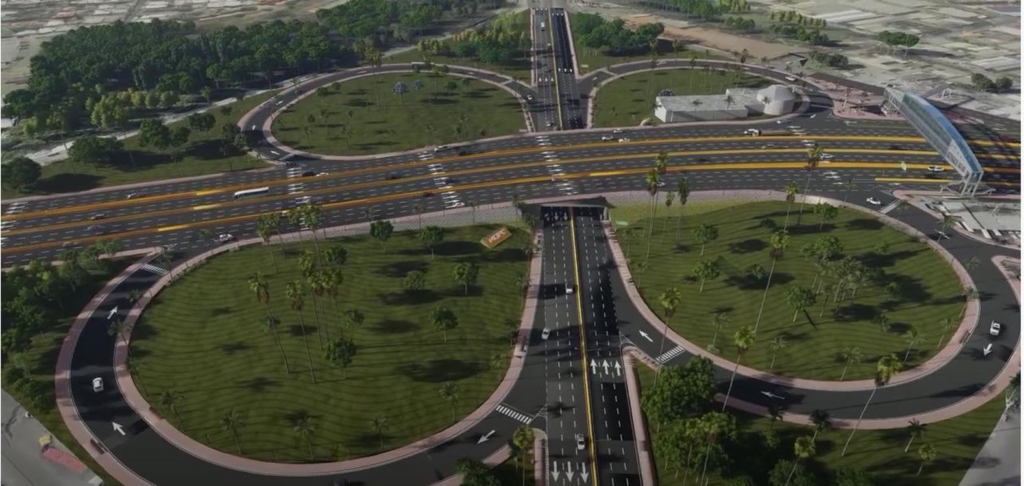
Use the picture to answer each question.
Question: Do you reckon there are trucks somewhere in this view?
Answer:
Yes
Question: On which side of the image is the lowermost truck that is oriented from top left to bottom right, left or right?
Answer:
left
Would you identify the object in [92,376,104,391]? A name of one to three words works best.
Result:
vehicle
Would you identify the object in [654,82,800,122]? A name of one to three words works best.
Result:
building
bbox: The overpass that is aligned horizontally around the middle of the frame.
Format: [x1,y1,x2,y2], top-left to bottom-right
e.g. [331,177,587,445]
[530,195,615,233]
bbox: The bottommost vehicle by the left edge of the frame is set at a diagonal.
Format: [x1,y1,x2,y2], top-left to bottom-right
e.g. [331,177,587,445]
[40,434,81,466]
